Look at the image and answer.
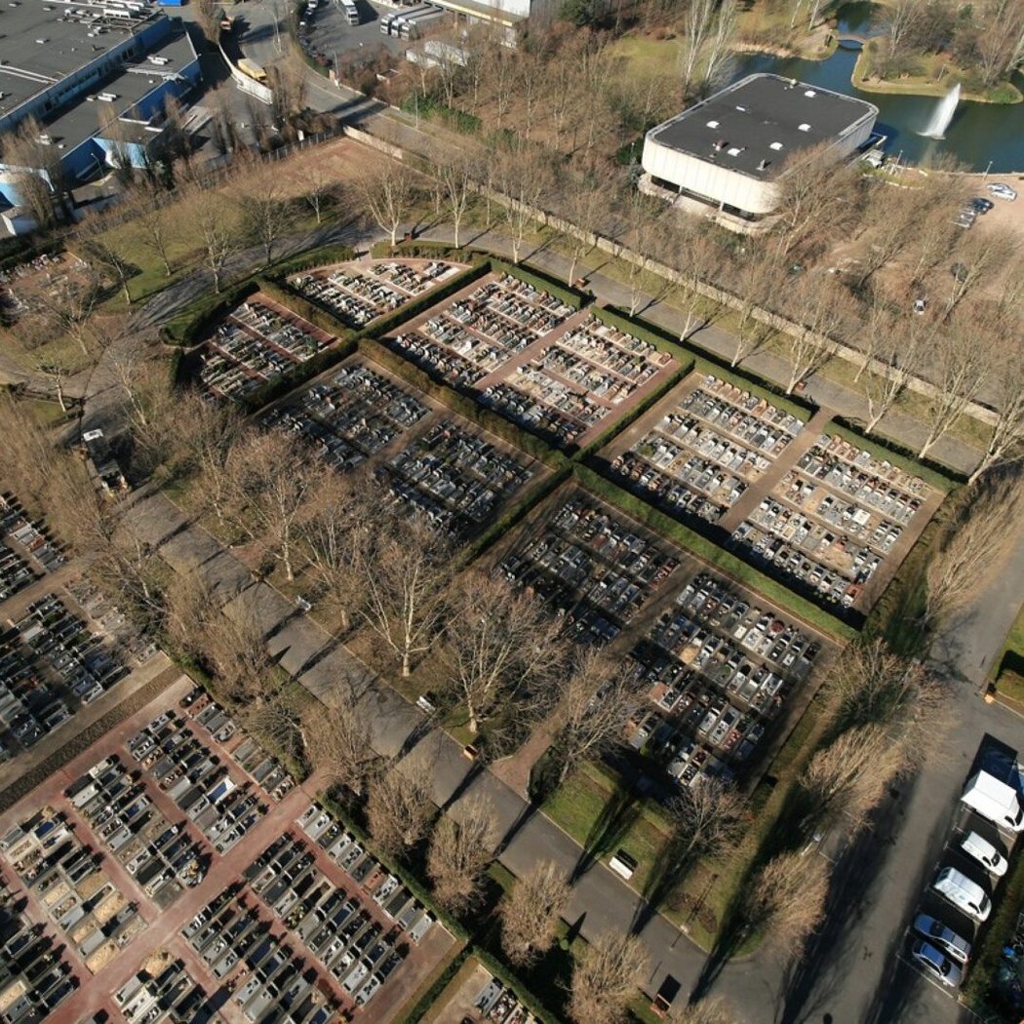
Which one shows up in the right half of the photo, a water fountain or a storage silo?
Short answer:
water fountain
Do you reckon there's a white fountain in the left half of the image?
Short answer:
No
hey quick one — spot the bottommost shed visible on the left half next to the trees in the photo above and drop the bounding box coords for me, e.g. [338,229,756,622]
[76,439,126,485]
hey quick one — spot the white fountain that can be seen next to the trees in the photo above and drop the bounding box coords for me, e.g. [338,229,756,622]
[927,84,962,139]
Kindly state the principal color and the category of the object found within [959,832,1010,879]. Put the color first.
white van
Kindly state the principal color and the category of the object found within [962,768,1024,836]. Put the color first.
white truck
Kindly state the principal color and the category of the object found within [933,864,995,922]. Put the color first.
white van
